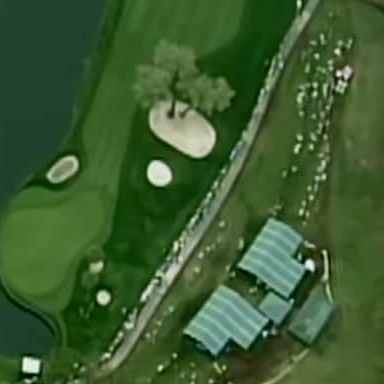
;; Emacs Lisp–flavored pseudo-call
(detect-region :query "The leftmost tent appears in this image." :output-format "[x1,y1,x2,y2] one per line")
[259,294,292,330]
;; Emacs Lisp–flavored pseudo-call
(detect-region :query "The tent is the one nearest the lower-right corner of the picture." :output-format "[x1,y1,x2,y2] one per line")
[288,286,335,348]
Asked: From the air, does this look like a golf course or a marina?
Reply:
golf course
